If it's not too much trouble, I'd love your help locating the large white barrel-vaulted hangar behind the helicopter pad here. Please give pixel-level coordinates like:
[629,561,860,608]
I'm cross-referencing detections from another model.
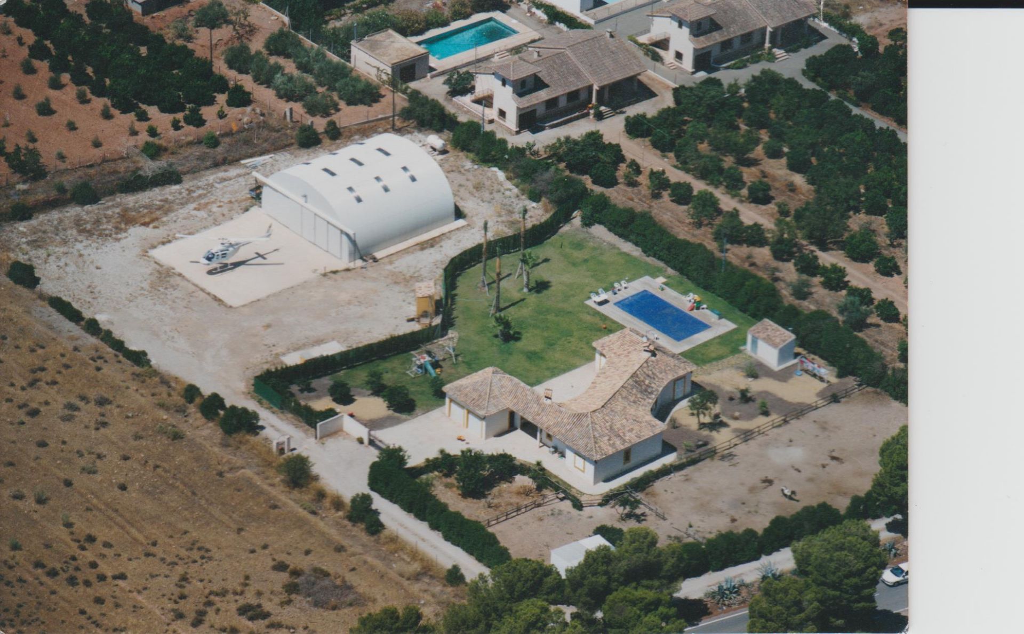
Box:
[255,131,456,265]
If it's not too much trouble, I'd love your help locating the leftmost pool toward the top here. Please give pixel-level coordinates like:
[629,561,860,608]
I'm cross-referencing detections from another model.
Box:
[399,10,542,76]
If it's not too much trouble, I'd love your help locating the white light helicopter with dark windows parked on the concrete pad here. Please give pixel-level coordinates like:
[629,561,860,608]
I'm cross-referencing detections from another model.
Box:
[176,223,275,269]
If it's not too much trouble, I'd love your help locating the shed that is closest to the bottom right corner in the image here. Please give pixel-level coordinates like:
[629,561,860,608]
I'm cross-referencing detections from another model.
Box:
[743,320,798,369]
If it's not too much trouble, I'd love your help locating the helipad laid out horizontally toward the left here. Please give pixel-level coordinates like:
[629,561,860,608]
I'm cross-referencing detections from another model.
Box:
[149,206,354,308]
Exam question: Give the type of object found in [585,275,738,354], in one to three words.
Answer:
swimming pool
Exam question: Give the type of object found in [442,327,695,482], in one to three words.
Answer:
house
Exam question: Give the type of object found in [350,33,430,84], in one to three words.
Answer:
shed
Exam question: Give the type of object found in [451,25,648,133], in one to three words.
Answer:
house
